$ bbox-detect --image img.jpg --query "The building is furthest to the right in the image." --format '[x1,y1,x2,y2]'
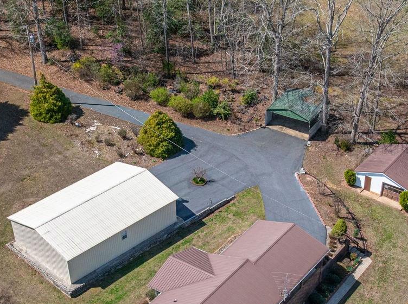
[355,144,408,206]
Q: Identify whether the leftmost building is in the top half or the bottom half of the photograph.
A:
bottom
